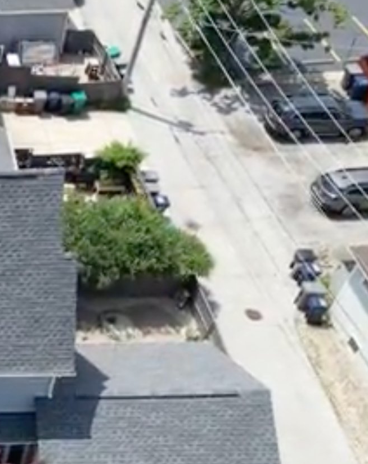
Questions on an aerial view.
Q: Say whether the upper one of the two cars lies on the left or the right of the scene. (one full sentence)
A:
The upper one of the two cars is on the right side of the image.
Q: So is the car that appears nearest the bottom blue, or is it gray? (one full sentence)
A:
The car that appears nearest the bottom is gray.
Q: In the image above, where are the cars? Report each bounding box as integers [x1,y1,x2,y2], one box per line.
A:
[263,97,368,139]
[308,171,368,219]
